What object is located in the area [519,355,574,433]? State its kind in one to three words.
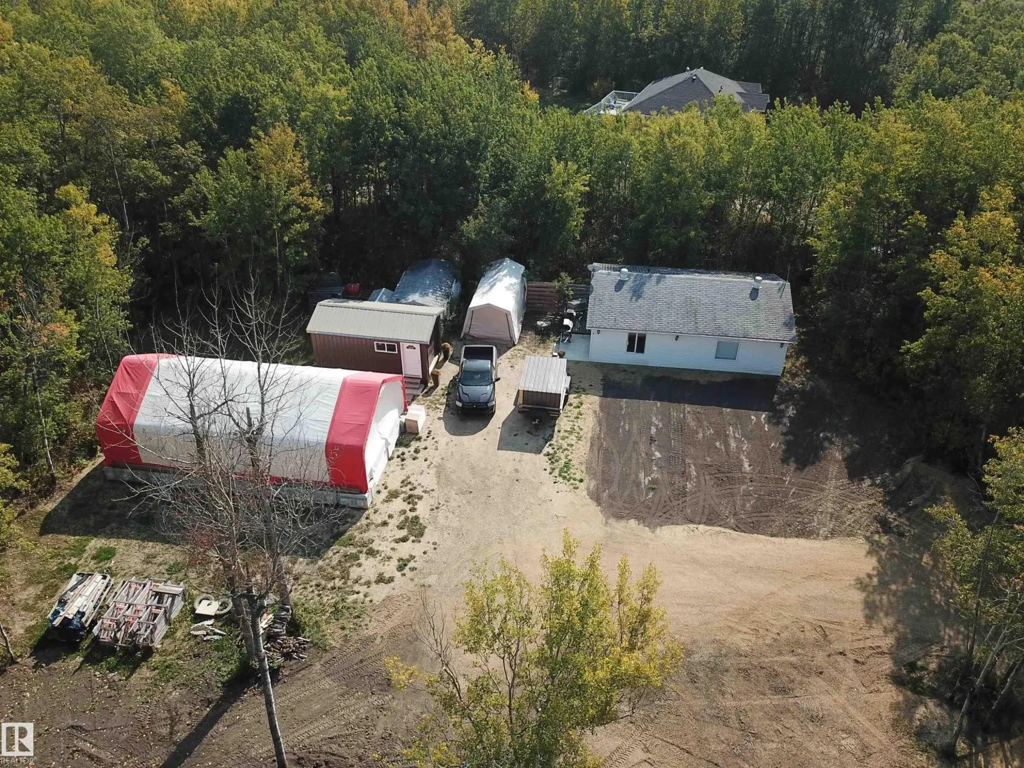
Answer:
trailer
